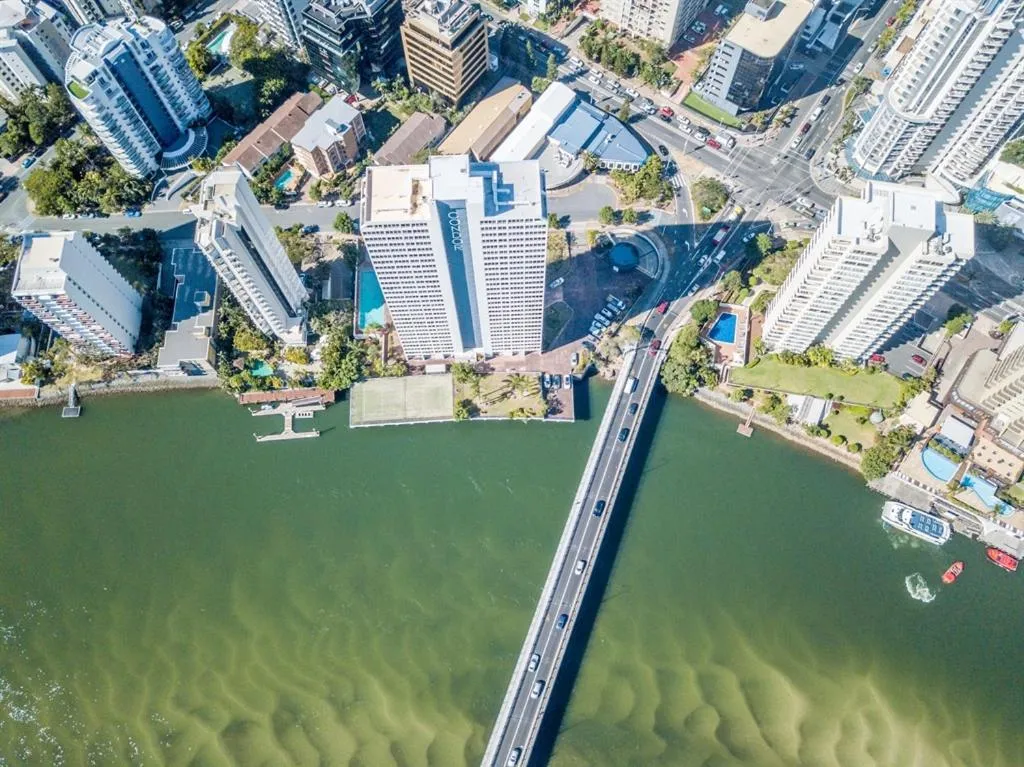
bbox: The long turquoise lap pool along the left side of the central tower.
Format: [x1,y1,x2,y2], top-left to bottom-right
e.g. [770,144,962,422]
[355,260,392,331]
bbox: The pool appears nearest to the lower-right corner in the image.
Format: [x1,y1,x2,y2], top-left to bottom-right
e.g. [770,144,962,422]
[959,473,1016,519]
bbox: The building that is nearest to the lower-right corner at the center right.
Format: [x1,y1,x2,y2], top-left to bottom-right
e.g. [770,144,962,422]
[969,438,1023,483]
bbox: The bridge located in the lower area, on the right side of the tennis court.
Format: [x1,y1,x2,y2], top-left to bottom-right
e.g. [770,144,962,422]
[480,291,701,767]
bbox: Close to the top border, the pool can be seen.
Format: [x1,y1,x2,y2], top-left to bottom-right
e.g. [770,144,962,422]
[203,23,235,56]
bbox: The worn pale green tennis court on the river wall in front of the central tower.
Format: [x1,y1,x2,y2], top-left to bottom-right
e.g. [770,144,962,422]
[348,372,453,425]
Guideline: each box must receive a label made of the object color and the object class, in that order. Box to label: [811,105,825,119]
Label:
white vehicle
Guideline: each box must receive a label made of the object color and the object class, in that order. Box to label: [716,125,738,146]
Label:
white truck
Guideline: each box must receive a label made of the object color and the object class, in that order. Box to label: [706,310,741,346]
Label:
blue swimming pool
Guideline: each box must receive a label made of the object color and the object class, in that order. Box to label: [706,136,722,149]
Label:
red vehicle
